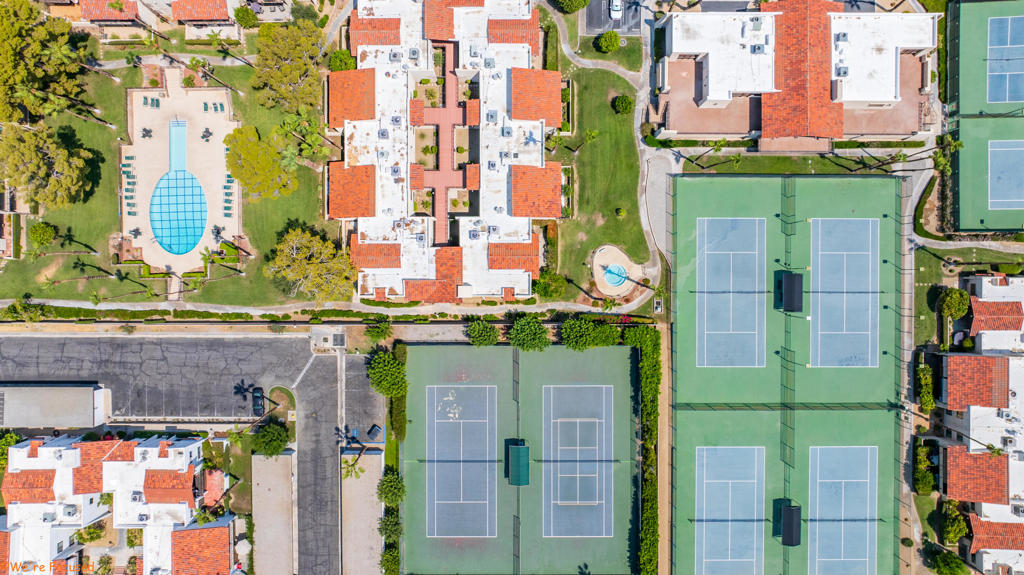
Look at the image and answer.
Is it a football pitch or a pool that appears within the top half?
pool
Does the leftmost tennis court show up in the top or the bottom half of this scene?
bottom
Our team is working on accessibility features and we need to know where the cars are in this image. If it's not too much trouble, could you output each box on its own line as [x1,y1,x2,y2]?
[250,387,265,417]
[610,0,625,19]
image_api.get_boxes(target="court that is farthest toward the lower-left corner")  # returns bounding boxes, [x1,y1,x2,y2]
[402,346,516,574]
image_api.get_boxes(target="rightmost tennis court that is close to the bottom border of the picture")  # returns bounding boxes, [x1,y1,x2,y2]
[788,407,901,575]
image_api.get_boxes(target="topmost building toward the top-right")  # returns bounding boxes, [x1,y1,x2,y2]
[648,0,942,153]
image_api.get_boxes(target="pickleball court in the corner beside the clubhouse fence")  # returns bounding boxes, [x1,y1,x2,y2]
[961,3,1024,118]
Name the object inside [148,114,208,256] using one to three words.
swimming pool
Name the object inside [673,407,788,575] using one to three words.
tennis court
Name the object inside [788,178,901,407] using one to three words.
tennis court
